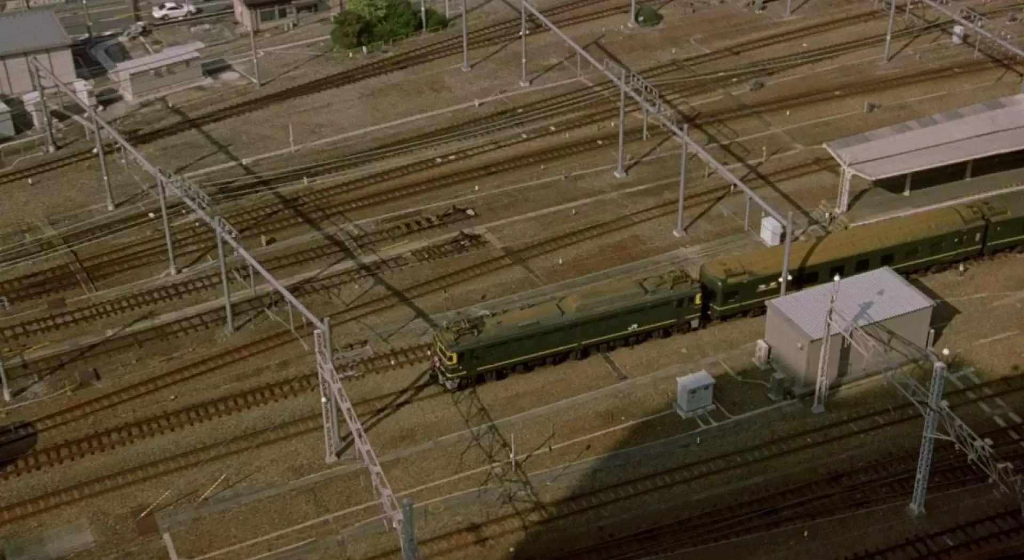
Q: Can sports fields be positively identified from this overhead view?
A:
No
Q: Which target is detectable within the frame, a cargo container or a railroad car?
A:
railroad car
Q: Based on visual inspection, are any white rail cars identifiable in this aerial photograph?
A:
No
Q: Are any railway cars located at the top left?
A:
No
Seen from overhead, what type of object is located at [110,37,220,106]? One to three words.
building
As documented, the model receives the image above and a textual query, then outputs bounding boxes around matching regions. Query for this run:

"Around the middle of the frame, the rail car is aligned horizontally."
[429,267,701,388]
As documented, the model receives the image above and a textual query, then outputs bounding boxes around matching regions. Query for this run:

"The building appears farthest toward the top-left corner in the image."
[0,9,77,97]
